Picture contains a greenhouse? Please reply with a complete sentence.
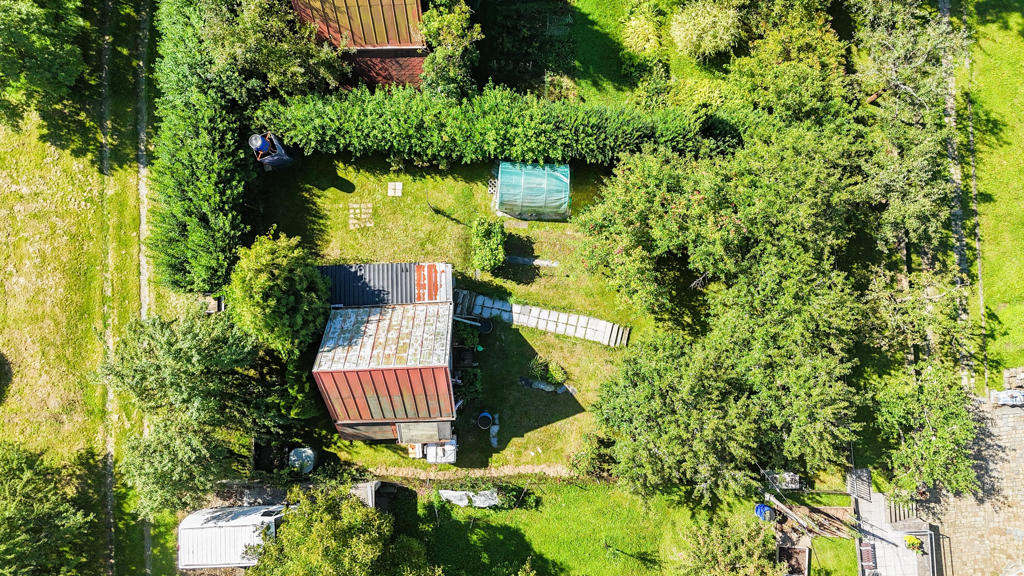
Yes, a greenhouse is visible in the scene.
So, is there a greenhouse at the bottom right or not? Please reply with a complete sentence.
No, there is no greenhouse at the bottom right.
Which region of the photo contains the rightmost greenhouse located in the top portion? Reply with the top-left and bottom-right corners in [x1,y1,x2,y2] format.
[496,159,576,226]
